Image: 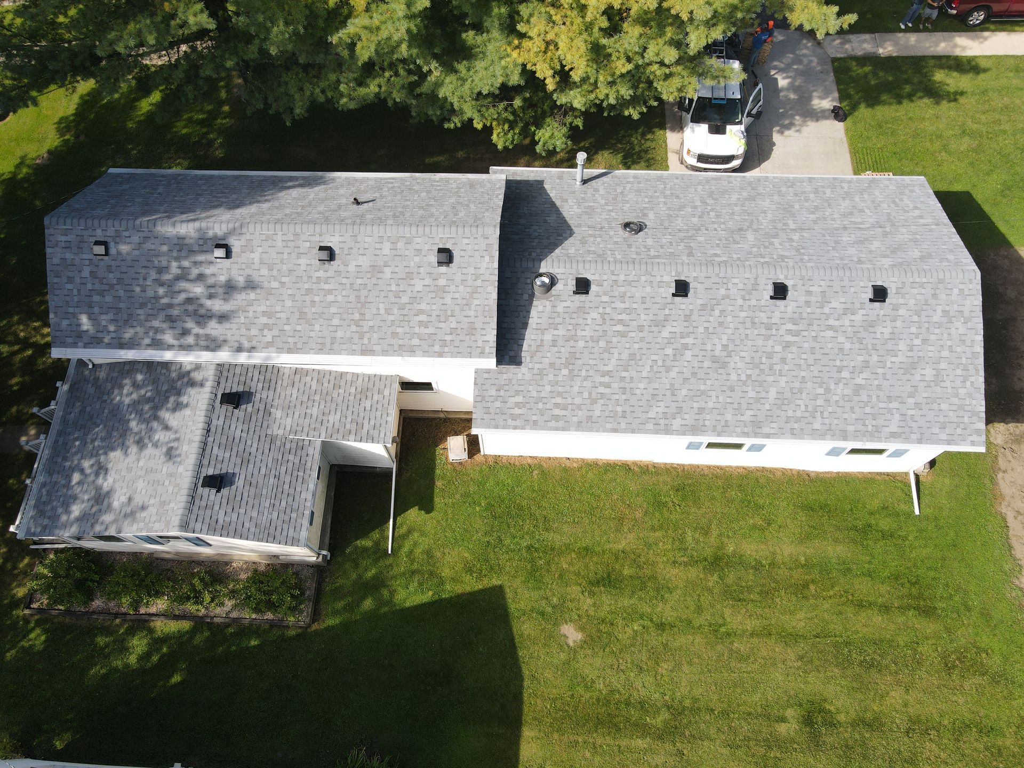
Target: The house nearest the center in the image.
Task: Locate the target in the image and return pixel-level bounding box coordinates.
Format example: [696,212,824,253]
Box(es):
[8,153,985,573]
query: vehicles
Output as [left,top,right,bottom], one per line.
[667,14,764,169]
[940,0,1024,24]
